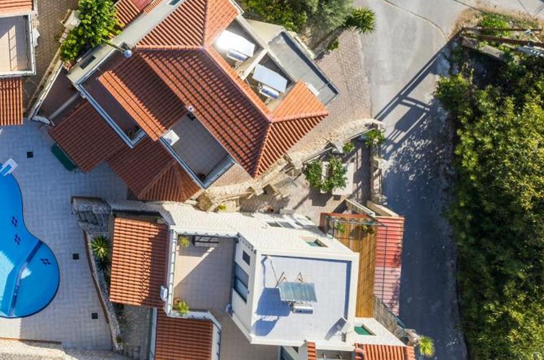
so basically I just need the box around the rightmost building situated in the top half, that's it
[43,0,338,204]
